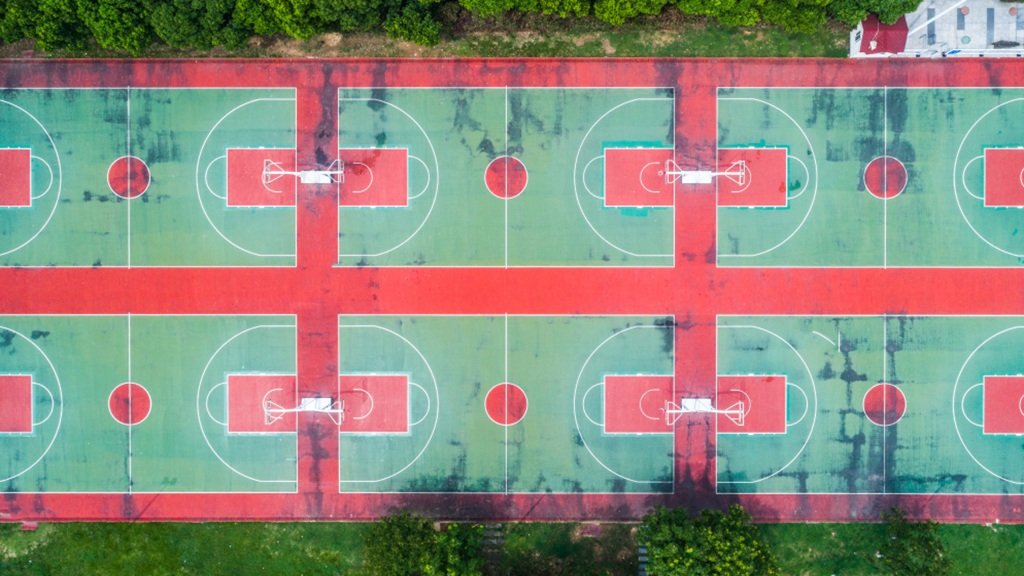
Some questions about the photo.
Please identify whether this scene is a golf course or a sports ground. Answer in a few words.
sports ground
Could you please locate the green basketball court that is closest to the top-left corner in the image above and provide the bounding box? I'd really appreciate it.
[0,86,297,268]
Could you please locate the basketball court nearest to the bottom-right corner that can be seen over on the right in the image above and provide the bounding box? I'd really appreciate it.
[716,315,1024,495]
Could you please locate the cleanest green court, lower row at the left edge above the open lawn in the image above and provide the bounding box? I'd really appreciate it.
[0,313,297,494]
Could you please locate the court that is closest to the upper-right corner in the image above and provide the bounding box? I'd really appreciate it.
[717,87,1024,268]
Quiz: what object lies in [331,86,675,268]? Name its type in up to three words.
basketball court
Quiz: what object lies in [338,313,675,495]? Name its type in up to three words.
basketball court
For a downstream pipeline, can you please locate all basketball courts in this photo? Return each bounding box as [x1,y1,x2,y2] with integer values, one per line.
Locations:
[0,86,297,268]
[0,313,297,494]
[338,313,675,495]
[717,87,1024,268]
[331,86,675,268]
[716,315,1024,495]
